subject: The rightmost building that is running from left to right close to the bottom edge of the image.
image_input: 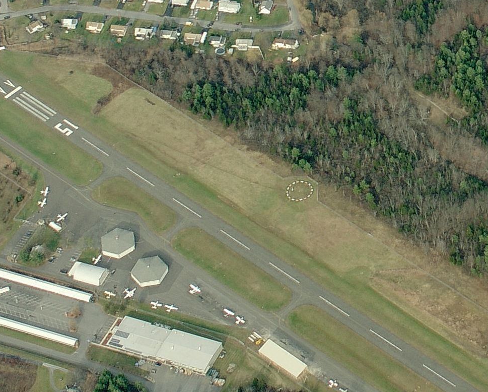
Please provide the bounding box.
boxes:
[104,317,222,373]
